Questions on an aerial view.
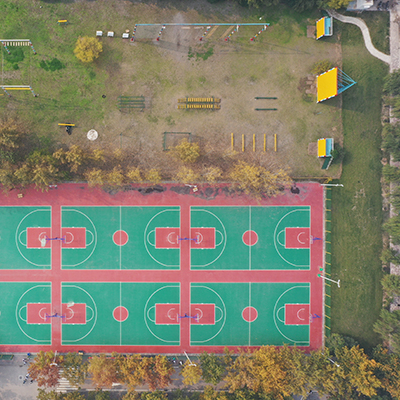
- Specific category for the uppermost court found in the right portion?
basketball court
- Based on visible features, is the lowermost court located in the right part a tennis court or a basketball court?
basketball court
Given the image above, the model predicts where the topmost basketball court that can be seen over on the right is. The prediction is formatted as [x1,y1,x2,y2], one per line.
[190,206,310,269]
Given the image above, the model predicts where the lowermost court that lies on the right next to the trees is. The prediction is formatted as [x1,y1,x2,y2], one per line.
[190,282,310,345]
